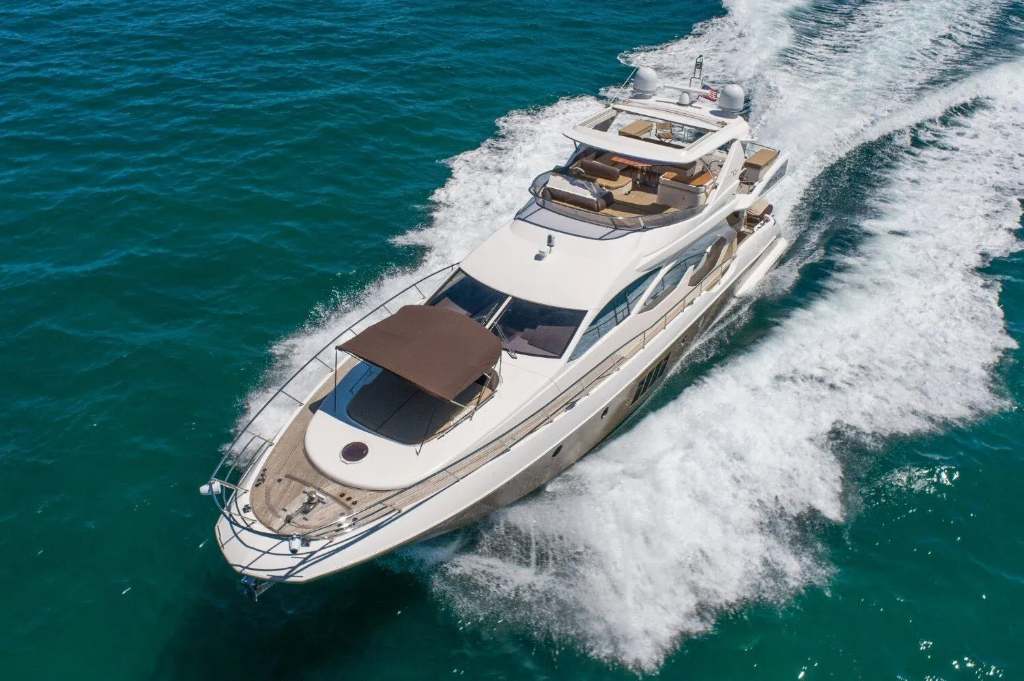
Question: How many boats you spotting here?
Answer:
1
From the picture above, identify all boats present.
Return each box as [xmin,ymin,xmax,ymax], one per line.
[190,54,794,605]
